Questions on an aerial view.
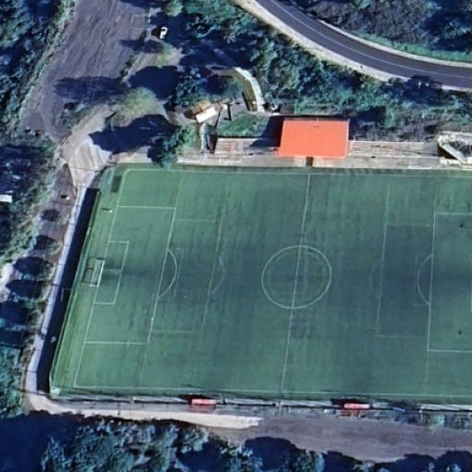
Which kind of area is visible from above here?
sports ground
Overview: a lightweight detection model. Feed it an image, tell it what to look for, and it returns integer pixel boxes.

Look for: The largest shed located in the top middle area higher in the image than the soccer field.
[189,101,220,126]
